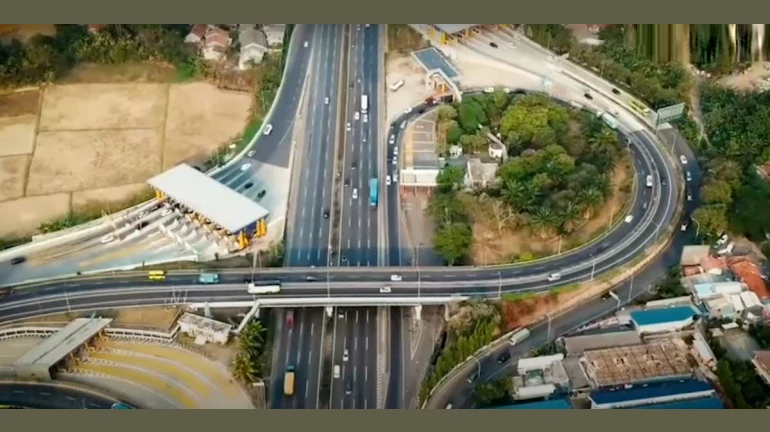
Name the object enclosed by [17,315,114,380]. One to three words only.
toll station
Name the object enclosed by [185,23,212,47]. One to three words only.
house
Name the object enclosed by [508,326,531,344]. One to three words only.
vehicle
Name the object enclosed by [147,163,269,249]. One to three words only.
toll station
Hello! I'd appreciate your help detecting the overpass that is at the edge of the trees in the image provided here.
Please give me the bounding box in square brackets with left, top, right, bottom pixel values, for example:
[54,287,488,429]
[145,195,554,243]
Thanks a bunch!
[190,264,459,313]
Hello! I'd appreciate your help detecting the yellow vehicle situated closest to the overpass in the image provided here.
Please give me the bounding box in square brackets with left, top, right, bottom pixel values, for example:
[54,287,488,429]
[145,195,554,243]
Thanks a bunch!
[147,268,167,280]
